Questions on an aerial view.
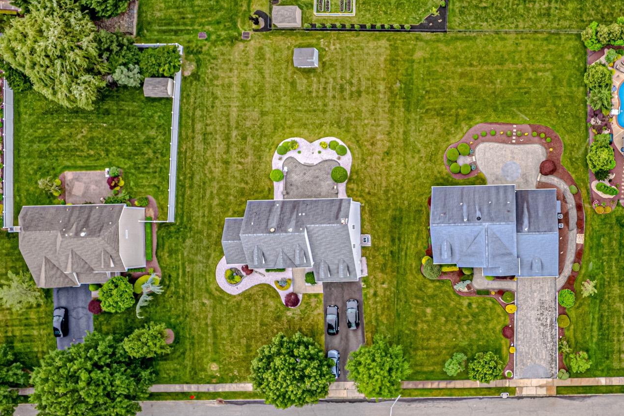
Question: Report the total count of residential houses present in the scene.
3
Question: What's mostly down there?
grass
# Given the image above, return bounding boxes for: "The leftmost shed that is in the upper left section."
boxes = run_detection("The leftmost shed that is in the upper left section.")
[136,77,172,96]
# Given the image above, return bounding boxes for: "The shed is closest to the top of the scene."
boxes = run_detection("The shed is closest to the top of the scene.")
[266,1,301,26]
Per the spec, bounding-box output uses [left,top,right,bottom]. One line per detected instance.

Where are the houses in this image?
[218,198,361,282]
[15,204,145,289]
[428,184,560,277]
